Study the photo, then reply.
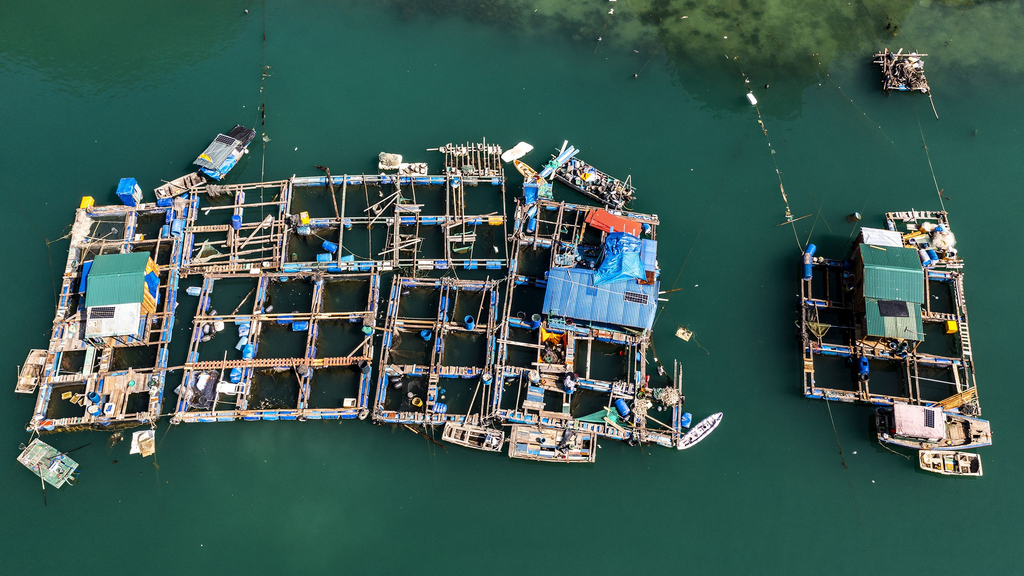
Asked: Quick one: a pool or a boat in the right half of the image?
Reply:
boat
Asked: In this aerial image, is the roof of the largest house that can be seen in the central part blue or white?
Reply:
blue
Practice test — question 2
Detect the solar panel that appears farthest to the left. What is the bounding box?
[90,306,115,319]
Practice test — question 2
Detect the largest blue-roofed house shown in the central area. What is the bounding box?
[542,224,660,339]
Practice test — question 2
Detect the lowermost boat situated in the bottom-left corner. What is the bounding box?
[18,439,92,506]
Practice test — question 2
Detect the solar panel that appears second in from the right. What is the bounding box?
[624,291,648,304]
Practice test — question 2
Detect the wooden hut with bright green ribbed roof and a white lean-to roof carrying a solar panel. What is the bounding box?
[77,252,161,351]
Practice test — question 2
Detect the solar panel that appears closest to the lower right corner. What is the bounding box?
[879,301,909,317]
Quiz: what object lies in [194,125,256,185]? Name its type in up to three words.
boat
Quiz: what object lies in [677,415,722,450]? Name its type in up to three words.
boat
